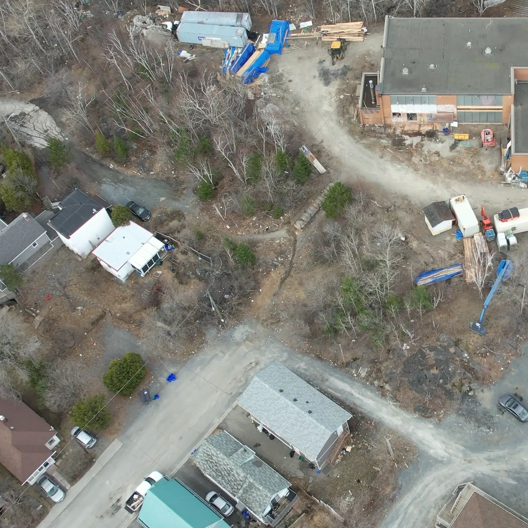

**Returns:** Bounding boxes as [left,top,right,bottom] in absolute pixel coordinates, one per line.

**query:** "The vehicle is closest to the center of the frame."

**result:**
[124,199,155,225]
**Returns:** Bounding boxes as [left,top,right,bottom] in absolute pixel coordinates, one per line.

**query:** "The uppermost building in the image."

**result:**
[360,16,528,171]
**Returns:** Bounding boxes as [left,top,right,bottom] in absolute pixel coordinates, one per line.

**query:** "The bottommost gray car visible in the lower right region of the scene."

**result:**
[496,391,528,429]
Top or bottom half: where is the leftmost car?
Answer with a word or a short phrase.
bottom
